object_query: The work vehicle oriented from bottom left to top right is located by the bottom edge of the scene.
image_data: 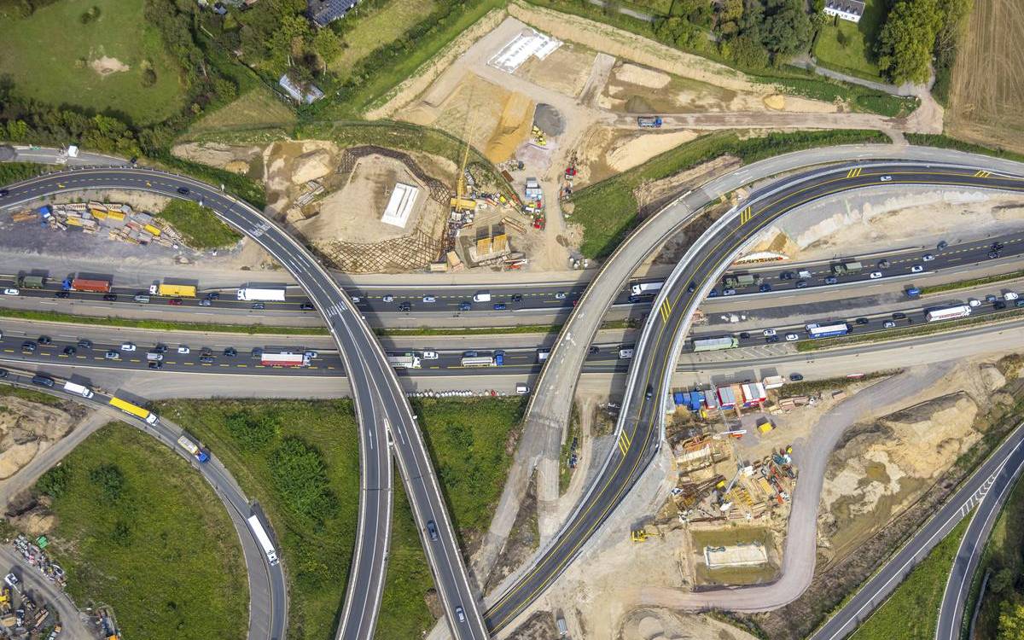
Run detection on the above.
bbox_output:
[0,586,20,609]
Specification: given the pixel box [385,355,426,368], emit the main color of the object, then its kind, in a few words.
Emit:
white vehicle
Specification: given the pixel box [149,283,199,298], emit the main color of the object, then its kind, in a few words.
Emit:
yellow vehicle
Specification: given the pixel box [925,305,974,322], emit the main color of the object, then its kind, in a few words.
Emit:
white vehicle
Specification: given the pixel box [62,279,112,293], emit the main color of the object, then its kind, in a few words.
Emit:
red vehicle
